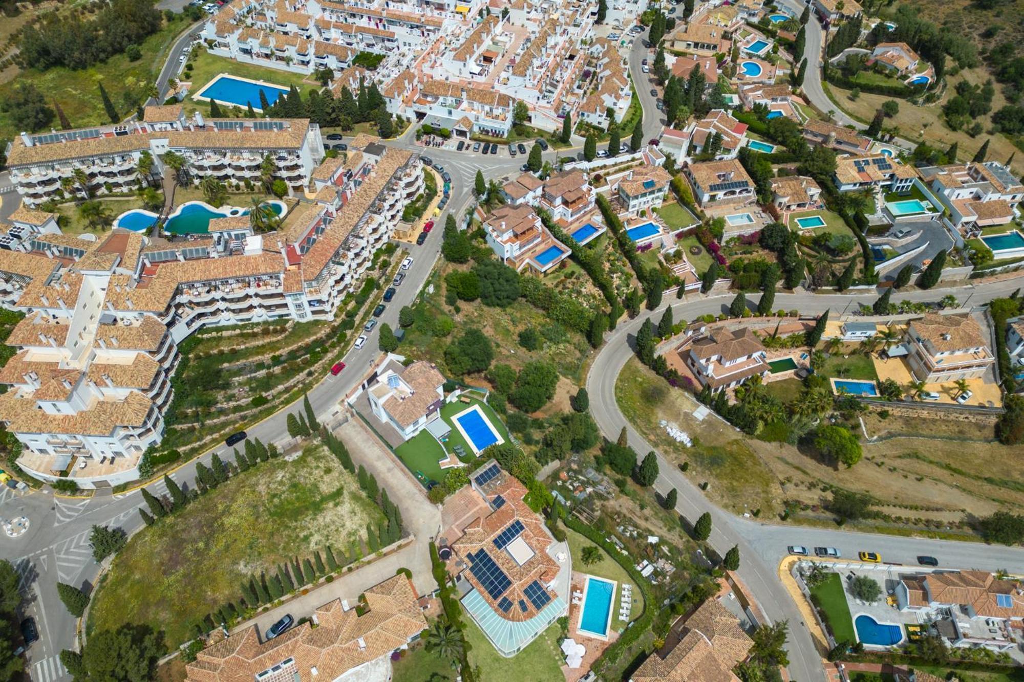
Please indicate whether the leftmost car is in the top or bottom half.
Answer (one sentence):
The leftmost car is in the bottom half of the image.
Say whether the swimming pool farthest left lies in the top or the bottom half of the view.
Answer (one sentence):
The top half of the photo is where the swimming pool farthest left is.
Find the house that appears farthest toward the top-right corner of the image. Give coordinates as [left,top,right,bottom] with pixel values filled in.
[866,40,924,80]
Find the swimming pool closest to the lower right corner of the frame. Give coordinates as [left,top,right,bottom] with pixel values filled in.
[849,610,909,651]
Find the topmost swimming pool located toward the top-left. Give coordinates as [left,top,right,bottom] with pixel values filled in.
[193,74,295,112]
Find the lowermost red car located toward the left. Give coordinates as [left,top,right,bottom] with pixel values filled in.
[329,362,347,375]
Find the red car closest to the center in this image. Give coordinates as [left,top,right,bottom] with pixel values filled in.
[421,220,436,232]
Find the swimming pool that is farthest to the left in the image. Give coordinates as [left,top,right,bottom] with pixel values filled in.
[112,209,157,234]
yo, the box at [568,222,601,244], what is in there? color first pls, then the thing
blue swimming pool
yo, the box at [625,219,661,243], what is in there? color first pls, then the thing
blue swimming pool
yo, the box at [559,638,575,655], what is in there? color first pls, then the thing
white umbrella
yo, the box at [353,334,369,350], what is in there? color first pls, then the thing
white car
